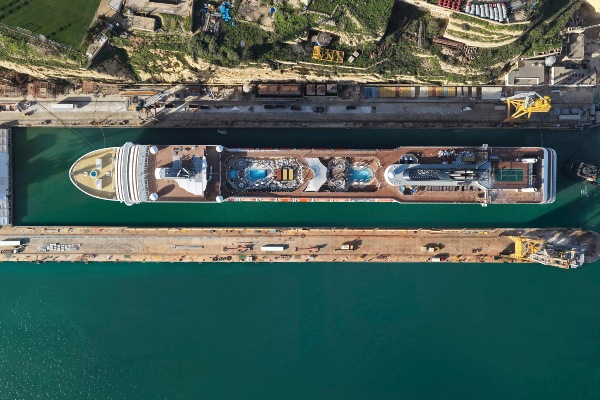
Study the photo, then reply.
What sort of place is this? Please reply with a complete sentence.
This looks like a port.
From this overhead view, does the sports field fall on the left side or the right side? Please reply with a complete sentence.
The sports field sits on the left side.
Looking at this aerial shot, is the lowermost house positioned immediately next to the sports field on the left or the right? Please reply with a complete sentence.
The lowermost house positioned immediately next to the sports field sits on the left side.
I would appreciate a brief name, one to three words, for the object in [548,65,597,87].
building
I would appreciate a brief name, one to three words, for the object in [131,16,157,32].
house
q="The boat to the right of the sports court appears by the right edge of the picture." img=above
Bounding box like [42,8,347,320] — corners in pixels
[562,158,600,186]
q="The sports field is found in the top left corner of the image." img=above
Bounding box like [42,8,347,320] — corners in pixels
[0,0,97,49]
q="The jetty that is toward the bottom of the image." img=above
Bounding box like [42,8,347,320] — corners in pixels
[0,229,596,263]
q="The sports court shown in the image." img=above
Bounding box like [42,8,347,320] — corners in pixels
[493,162,531,188]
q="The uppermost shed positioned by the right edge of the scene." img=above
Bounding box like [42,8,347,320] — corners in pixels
[564,34,585,61]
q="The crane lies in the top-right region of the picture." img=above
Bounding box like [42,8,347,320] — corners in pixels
[479,90,553,122]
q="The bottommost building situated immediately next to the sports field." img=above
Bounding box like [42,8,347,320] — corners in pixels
[86,39,107,75]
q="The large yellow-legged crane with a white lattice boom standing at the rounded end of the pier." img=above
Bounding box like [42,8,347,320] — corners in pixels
[507,235,586,269]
